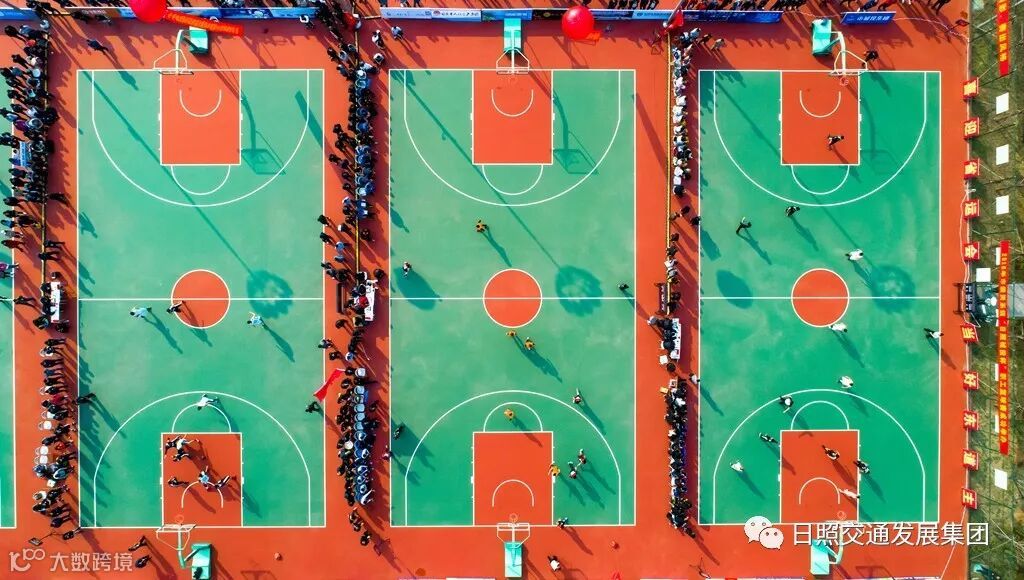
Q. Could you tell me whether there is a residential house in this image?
No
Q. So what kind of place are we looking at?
sports ground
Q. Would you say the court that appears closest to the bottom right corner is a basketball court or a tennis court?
basketball court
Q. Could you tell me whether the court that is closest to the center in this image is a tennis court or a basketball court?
basketball court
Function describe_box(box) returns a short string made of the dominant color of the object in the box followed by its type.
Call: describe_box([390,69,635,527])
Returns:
green basketball court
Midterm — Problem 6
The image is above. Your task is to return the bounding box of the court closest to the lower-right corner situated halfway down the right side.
[698,70,941,525]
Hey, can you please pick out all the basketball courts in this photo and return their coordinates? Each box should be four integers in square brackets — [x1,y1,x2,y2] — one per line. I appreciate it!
[390,69,635,527]
[76,69,326,529]
[698,70,941,525]
[0,69,14,529]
